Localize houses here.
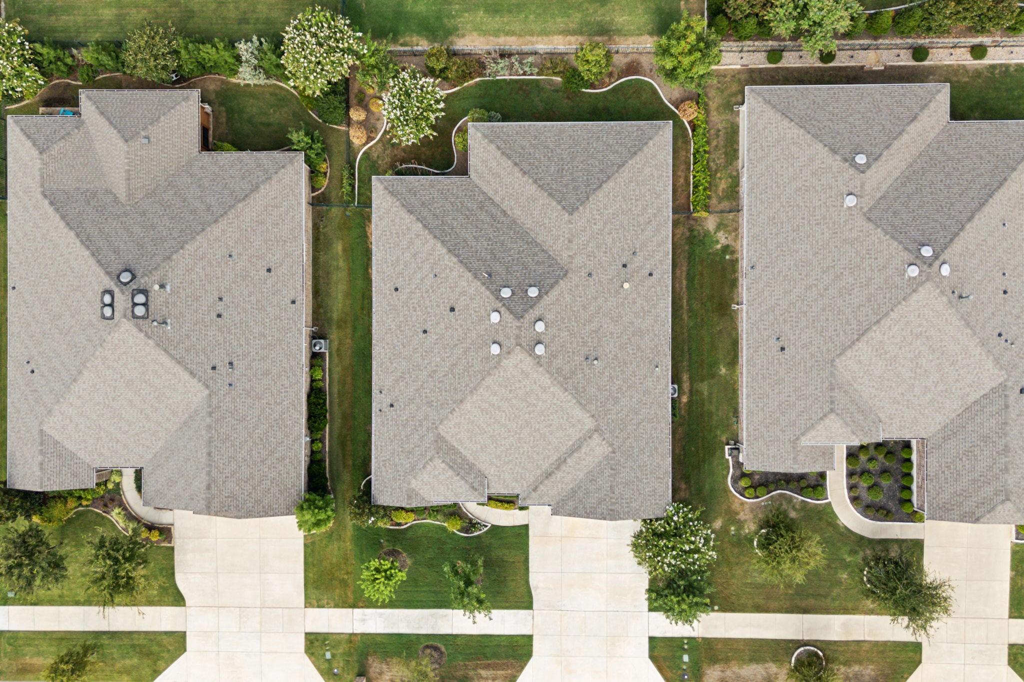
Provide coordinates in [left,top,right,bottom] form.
[372,121,672,522]
[7,90,317,519]
[733,85,1024,526]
